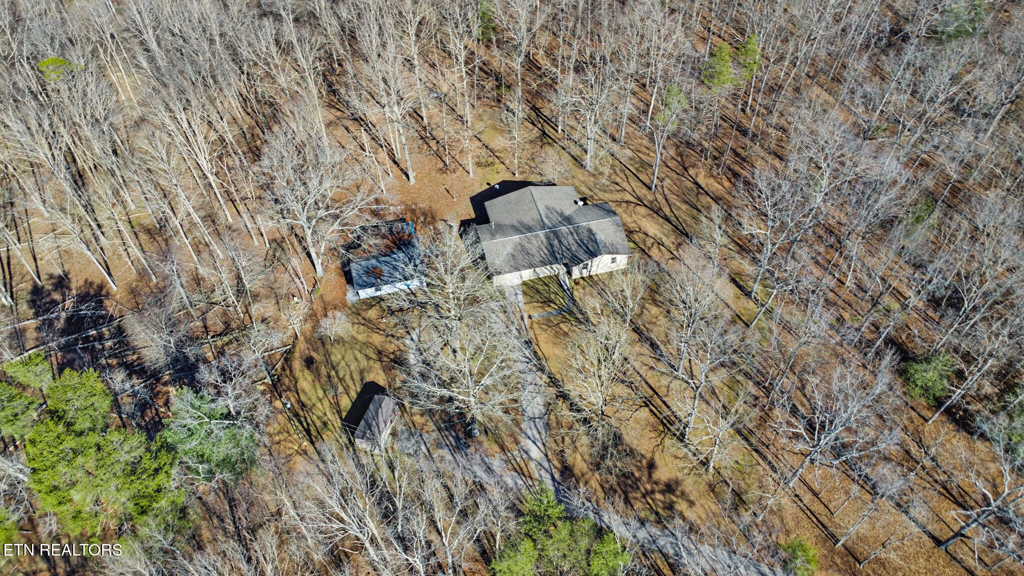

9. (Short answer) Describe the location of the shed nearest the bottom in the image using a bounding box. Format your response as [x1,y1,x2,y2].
[354,395,399,451]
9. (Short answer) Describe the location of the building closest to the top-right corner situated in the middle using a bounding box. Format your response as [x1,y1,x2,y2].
[476,186,632,285]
